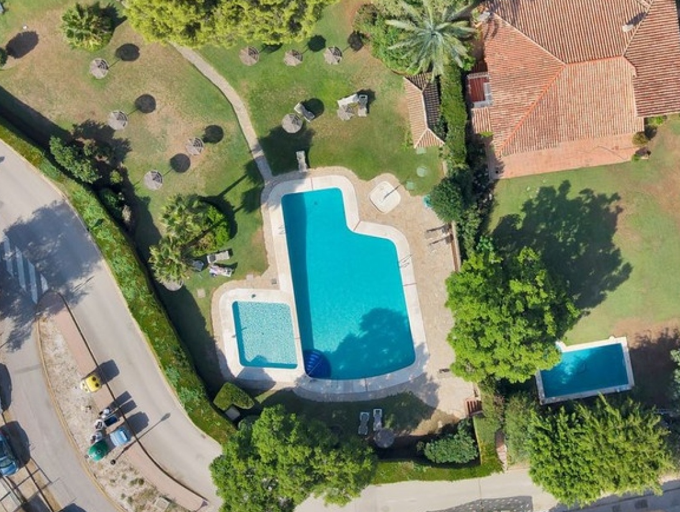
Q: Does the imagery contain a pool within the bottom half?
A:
Yes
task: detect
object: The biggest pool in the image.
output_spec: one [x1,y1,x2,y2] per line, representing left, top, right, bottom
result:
[230,175,426,394]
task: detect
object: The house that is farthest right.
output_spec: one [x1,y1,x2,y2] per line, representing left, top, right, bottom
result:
[465,0,680,159]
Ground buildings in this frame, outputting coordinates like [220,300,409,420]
[402,72,446,150]
[465,0,680,159]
